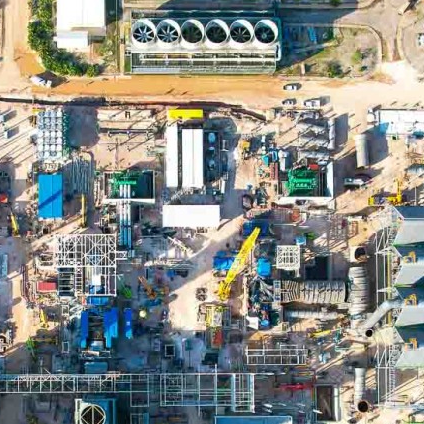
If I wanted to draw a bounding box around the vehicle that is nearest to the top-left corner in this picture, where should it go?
[30,74,50,88]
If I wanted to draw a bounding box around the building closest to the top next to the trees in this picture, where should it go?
[56,0,105,38]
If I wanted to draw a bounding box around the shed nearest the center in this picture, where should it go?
[161,205,220,232]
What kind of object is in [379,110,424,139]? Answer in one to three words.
shed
